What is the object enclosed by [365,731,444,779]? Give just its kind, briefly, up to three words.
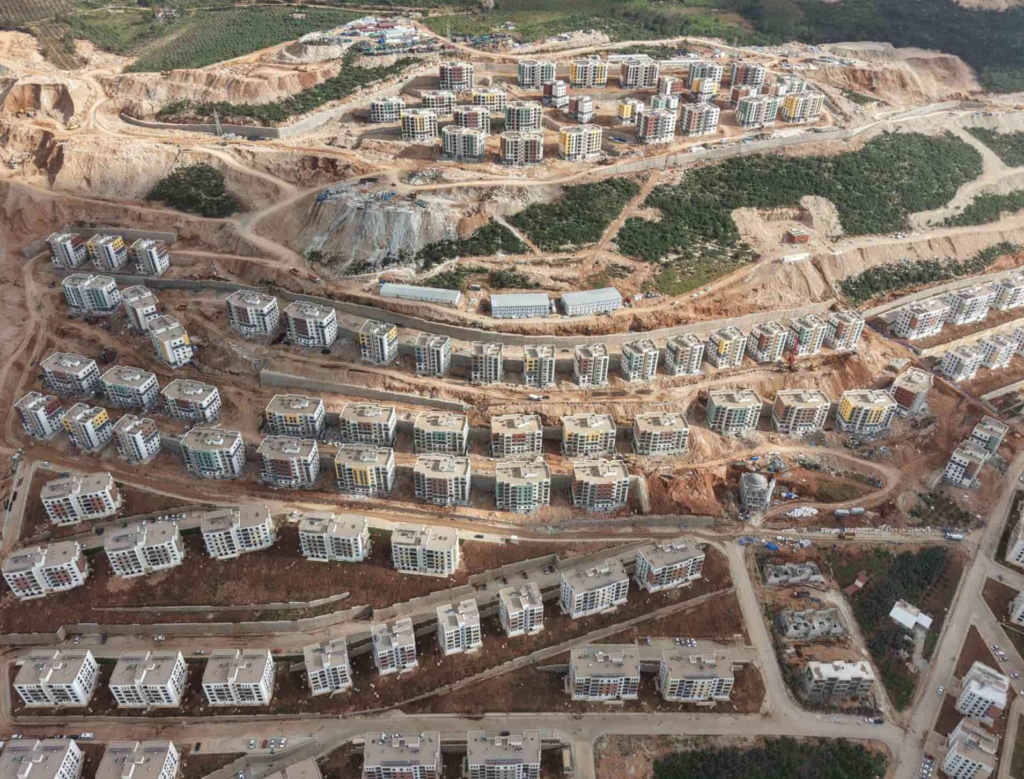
building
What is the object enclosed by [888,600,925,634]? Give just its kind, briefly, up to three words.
house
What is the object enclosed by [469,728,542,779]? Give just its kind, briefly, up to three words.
building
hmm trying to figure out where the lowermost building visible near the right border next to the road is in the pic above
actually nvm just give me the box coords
[939,722,998,779]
